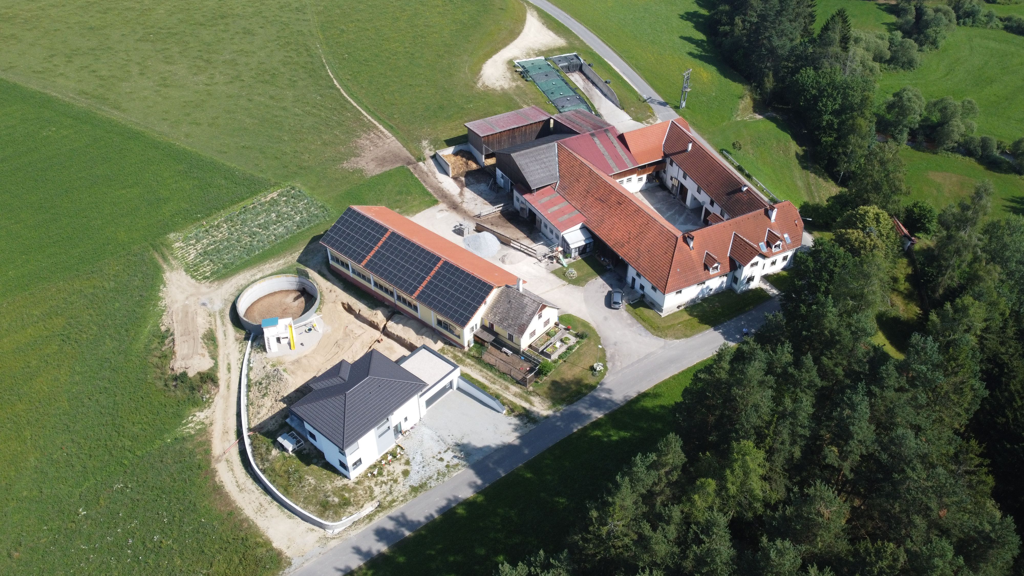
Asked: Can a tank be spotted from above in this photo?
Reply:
Yes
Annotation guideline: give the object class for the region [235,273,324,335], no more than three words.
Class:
storage tank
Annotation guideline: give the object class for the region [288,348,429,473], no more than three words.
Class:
house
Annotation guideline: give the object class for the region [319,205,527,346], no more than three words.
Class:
shed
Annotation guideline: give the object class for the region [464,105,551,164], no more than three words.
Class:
barn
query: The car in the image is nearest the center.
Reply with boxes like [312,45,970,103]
[611,288,624,308]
